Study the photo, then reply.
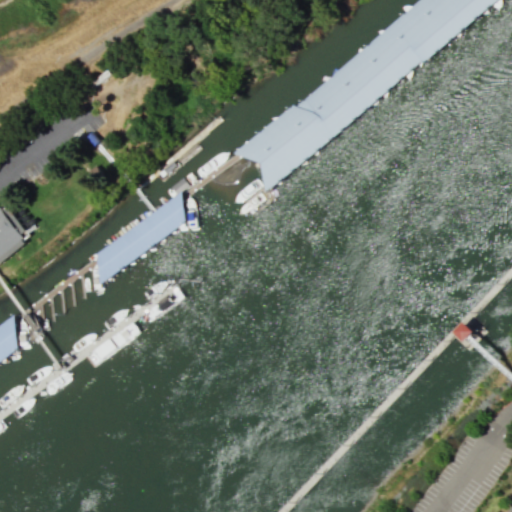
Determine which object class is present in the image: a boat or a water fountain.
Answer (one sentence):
It is a boat that can be seen here.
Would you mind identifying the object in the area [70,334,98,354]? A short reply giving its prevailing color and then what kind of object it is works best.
white boat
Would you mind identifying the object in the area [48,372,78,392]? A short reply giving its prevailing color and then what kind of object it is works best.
white boat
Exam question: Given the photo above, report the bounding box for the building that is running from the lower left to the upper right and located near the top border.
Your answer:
[235,0,498,190]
